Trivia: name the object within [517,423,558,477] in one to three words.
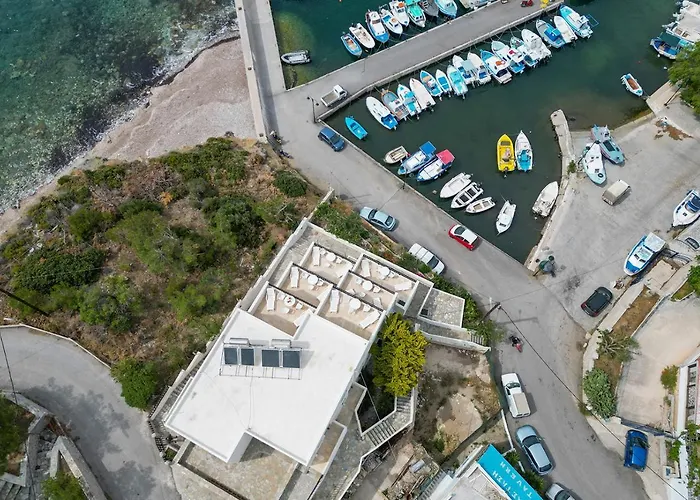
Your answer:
car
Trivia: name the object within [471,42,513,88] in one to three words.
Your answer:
boat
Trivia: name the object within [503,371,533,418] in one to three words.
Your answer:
truck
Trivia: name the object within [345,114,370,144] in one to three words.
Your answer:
boat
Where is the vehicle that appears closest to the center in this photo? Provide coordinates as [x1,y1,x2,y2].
[358,205,398,232]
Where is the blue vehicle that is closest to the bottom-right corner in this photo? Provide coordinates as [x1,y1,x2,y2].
[626,427,654,472]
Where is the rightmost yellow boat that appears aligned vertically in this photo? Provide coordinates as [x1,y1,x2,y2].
[498,133,514,177]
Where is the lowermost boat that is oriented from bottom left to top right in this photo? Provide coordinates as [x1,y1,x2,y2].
[623,223,676,274]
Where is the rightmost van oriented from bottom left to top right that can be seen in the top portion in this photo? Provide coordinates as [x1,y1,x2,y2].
[601,174,638,204]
